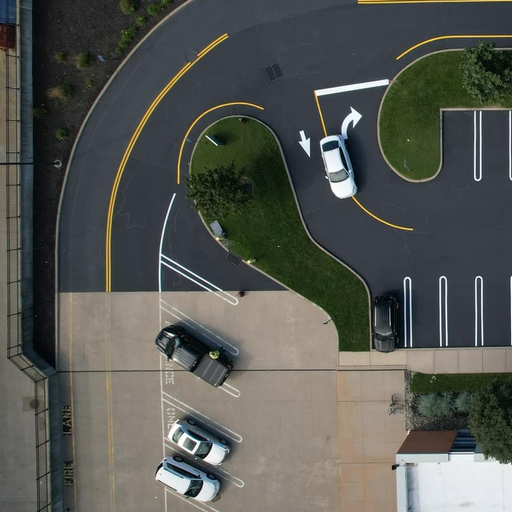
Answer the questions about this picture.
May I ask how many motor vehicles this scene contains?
5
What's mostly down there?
paved ground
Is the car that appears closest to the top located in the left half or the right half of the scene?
right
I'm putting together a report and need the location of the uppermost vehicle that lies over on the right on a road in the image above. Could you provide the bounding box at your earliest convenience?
[321,134,359,201]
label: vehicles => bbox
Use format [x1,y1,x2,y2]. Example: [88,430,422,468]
[155,324,235,388]
[321,134,359,201]
[166,415,234,466]
[370,294,399,351]
[154,451,223,503]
